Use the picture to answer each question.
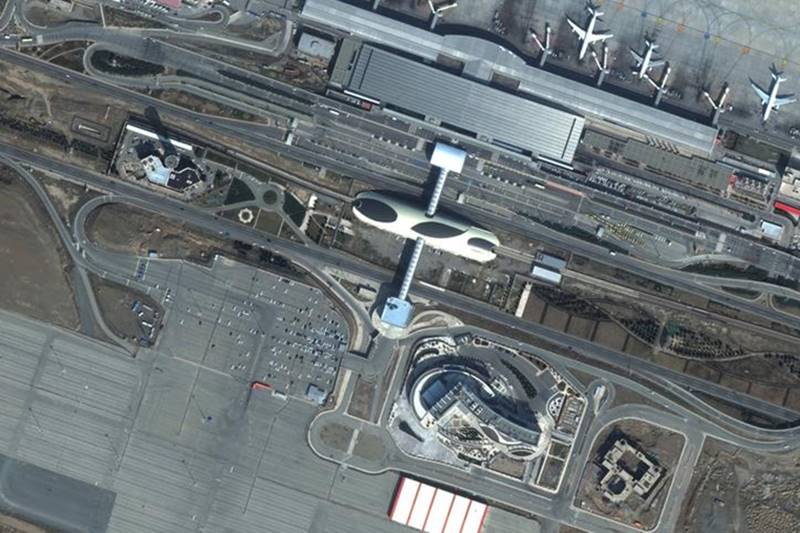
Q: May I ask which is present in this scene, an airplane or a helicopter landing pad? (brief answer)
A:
airplane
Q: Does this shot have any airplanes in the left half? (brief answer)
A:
No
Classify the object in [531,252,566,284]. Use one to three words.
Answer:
building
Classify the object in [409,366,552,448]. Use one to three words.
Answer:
building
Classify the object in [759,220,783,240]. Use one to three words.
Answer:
shed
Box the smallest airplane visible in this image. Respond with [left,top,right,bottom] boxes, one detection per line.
[631,38,666,77]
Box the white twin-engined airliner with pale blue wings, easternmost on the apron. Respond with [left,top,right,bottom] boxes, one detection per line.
[752,70,798,120]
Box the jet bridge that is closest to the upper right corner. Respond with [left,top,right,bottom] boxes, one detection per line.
[703,87,730,126]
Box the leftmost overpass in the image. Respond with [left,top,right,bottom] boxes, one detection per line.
[195,80,317,126]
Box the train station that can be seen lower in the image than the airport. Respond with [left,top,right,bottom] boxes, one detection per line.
[352,192,501,263]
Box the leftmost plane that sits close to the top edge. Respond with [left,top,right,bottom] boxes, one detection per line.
[568,7,615,59]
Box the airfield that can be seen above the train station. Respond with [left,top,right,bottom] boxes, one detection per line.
[340,0,800,168]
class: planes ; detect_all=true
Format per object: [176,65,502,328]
[752,70,798,120]
[631,38,666,77]
[568,7,615,59]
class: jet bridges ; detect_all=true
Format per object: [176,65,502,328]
[591,47,609,88]
[372,0,379,12]
[643,67,672,106]
[703,87,730,126]
[429,0,459,30]
[530,24,552,67]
